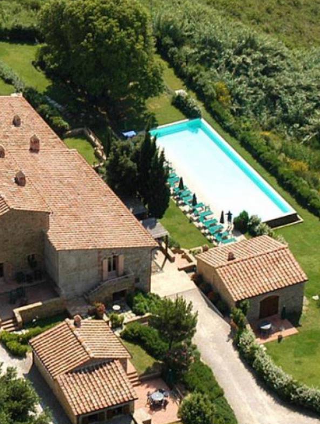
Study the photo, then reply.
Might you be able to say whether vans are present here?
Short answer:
No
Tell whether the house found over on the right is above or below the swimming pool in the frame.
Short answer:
below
